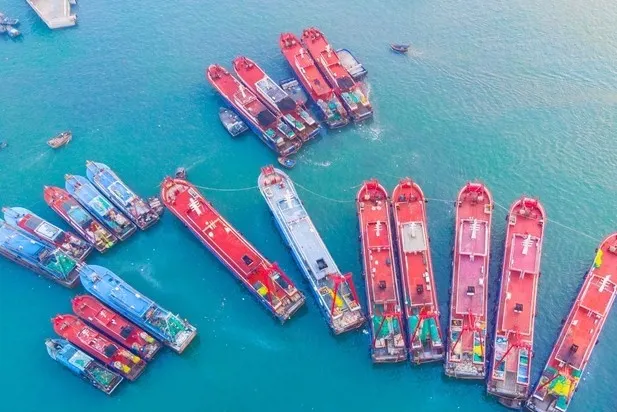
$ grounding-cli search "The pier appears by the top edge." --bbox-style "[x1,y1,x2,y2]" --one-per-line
[25,0,81,31]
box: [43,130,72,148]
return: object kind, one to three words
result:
boat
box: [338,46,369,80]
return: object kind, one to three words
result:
boat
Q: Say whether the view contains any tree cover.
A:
No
